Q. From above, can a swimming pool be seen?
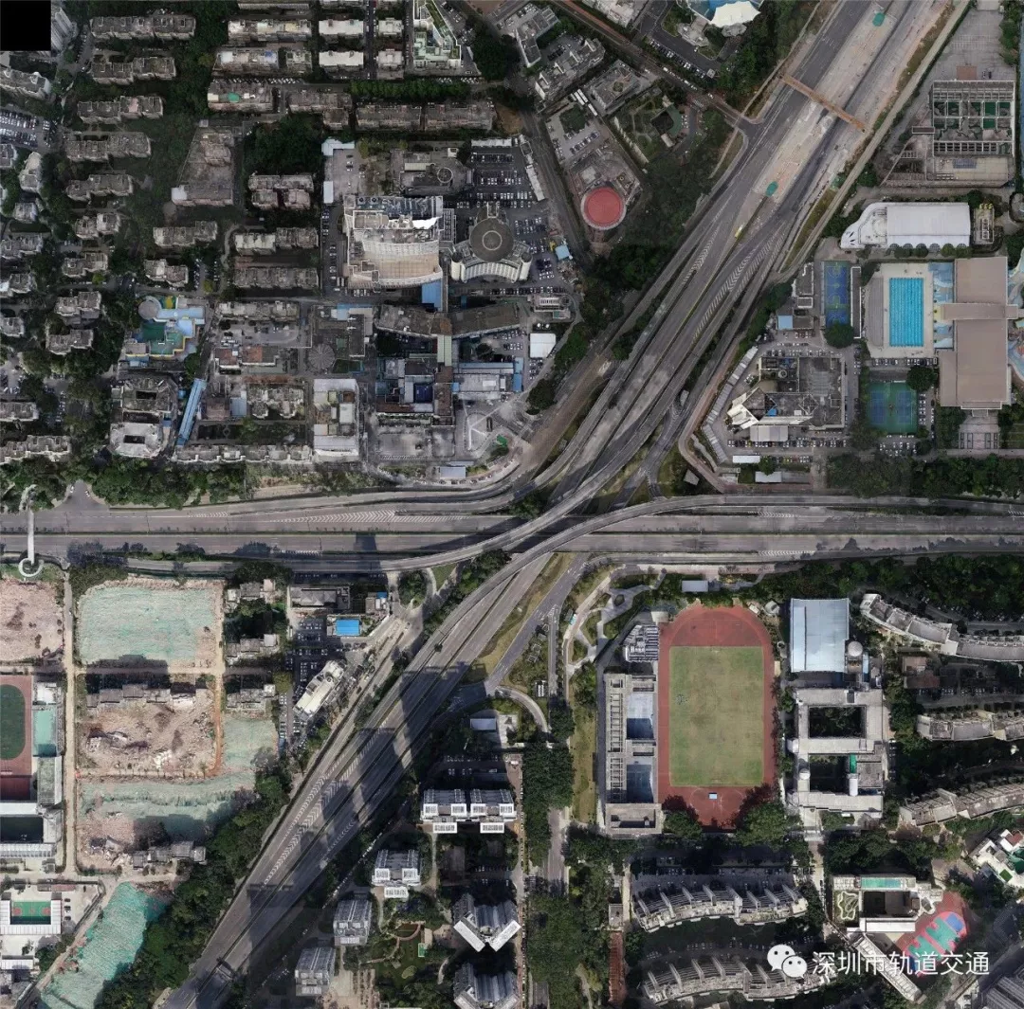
Yes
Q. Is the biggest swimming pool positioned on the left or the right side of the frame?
right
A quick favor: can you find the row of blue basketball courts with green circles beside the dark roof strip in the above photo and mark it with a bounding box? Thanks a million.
[821,262,850,328]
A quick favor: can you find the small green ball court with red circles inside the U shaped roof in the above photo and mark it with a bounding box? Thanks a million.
[15,901,50,921]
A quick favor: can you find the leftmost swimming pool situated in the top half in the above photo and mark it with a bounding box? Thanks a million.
[864,263,934,357]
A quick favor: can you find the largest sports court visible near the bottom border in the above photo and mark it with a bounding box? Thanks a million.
[898,892,968,977]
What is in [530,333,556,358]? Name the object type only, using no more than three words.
shed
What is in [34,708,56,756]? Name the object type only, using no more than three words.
sports court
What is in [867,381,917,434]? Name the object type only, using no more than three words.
tennis court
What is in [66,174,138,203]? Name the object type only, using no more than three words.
building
